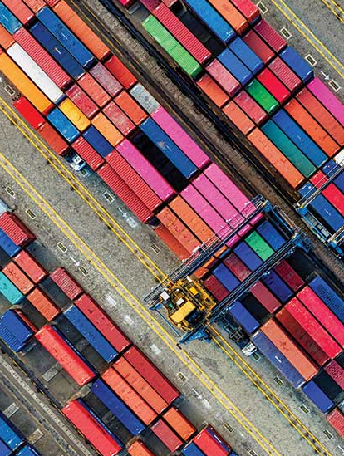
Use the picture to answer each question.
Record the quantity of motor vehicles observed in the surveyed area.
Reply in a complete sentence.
In total, there are 2 motor vehicles in the scene.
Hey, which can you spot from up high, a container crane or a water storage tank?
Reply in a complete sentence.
The one in the frame is a container crane.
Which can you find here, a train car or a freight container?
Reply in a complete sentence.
Of the two, only a freight container appears.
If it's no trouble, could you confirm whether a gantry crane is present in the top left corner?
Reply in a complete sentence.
No, in the top left corner there is no gantry crane.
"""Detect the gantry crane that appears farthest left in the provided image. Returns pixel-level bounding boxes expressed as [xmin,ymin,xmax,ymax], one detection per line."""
[130,186,310,348]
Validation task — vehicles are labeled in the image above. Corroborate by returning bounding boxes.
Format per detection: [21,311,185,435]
[215,307,259,356]
[64,148,87,171]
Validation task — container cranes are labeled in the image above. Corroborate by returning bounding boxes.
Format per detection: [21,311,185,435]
[130,186,310,348]
[290,153,344,255]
